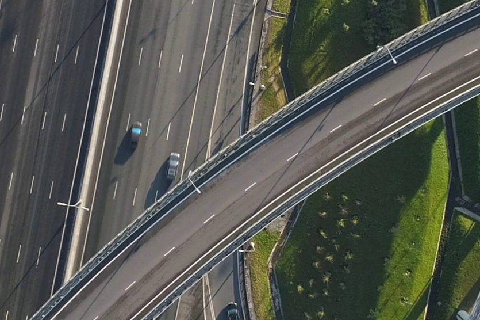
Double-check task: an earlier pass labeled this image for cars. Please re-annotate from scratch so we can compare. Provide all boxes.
[129,122,142,148]
[225,303,238,320]
[166,152,180,181]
